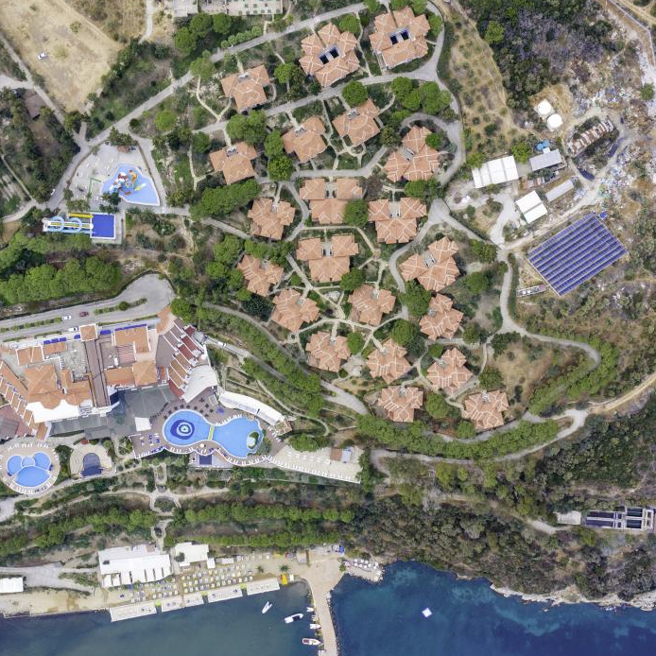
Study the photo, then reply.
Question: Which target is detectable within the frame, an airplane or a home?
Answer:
home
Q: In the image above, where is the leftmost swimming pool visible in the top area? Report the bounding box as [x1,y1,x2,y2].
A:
[90,213,116,239]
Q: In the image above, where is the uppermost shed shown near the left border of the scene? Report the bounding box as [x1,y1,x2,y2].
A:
[22,91,43,118]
